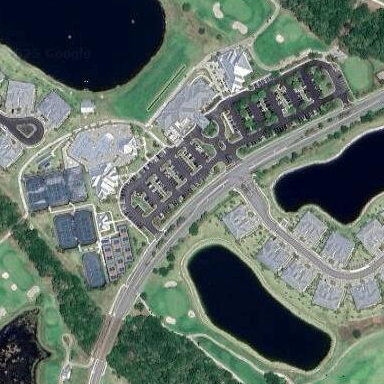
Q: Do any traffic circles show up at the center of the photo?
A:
No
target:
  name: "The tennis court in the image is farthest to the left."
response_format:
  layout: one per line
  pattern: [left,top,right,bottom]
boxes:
[22,174,50,210]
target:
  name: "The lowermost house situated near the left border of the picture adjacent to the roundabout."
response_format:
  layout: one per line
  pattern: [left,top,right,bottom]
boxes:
[0,129,27,170]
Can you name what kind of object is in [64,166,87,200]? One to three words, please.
tennis court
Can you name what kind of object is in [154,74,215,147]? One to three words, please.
building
